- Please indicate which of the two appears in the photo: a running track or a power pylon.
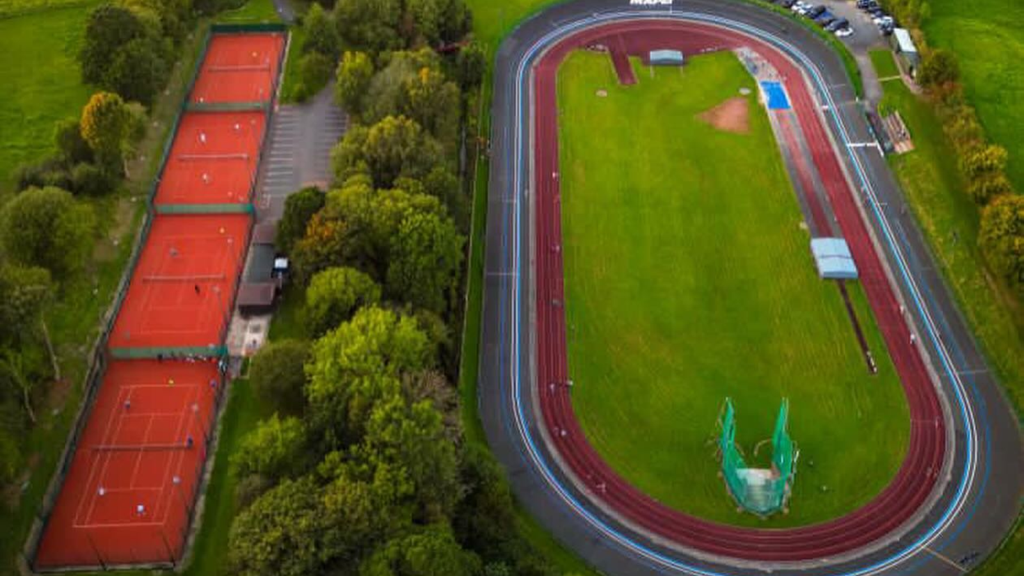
running track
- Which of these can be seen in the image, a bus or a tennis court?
tennis court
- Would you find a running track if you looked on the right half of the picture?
Yes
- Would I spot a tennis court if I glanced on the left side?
Yes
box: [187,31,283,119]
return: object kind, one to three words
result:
tennis court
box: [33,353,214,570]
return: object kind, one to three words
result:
tennis court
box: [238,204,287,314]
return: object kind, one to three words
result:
building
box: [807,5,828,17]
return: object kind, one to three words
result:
vehicle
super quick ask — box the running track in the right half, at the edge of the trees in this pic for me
[533,17,947,561]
